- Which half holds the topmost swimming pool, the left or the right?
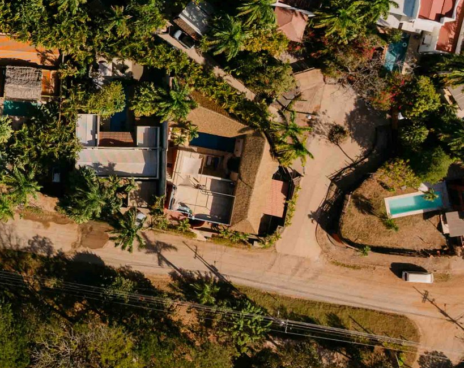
right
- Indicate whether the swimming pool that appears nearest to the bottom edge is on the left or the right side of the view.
right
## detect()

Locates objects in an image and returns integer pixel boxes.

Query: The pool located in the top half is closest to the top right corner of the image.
[380,33,410,74]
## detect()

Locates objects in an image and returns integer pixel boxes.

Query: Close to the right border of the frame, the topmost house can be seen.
[366,0,464,56]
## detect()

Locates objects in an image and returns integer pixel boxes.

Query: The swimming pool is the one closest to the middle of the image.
[186,134,237,156]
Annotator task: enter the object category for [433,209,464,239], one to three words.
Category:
shed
